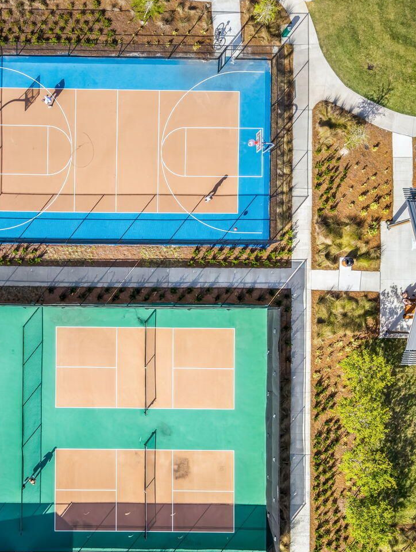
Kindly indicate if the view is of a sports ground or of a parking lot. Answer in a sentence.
The picture captures a sports ground.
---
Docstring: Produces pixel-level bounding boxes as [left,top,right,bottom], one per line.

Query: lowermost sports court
[54,448,234,532]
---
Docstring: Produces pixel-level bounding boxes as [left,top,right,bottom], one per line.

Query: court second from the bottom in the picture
[55,327,236,409]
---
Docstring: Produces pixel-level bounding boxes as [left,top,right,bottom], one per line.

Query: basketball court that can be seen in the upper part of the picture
[0,55,271,248]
